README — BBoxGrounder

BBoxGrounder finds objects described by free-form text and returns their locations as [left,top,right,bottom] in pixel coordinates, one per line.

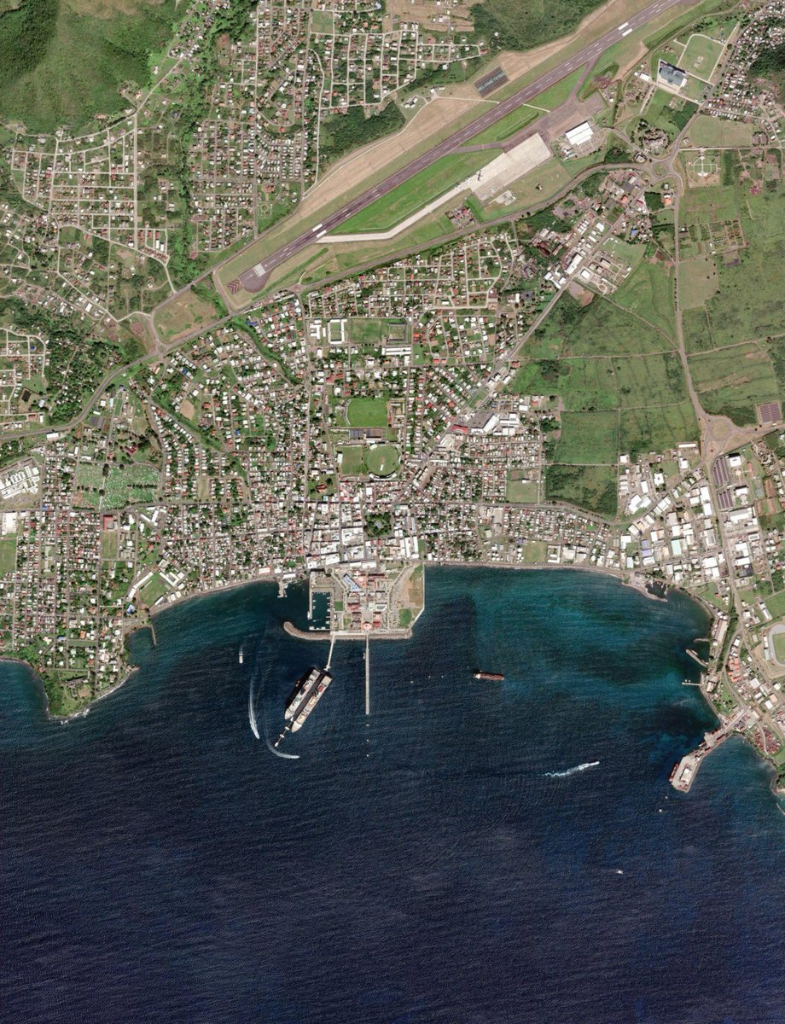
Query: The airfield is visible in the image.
[228,0,681,293]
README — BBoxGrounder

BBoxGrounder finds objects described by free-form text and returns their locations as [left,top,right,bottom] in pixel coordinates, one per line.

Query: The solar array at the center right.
[756,401,783,425]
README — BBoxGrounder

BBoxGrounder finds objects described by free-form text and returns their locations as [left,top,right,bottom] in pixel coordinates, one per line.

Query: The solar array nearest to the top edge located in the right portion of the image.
[474,66,509,98]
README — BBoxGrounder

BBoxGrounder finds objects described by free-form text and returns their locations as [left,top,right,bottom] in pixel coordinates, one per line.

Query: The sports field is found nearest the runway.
[680,35,723,79]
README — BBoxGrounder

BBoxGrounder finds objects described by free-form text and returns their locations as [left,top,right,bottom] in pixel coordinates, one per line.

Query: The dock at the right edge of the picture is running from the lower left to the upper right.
[672,710,757,792]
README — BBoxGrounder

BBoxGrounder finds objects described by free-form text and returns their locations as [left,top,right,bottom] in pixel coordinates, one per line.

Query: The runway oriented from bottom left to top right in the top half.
[230,0,679,293]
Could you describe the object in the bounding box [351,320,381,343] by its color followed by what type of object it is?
green sports field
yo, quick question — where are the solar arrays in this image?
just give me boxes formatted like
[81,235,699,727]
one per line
[756,401,783,425]
[474,66,509,98]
